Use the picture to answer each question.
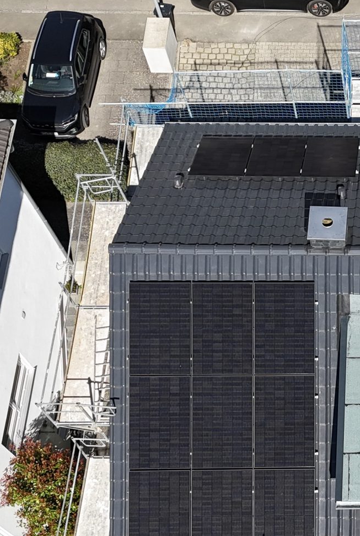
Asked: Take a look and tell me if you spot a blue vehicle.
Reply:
No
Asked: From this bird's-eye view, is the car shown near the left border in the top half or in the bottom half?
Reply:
top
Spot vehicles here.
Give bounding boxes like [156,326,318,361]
[14,2,104,147]
[188,0,351,18]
